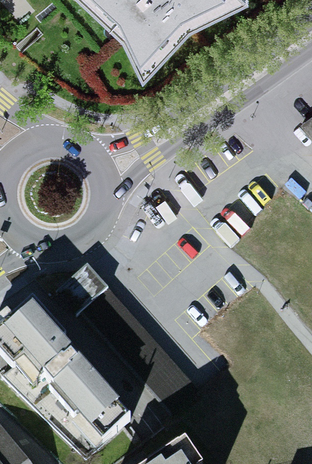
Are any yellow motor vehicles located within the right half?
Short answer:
Yes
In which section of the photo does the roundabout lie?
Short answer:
left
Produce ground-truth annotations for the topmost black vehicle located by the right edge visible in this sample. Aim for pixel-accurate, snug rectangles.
[294,97,310,118]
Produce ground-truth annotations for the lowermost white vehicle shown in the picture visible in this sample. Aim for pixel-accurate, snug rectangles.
[188,304,209,326]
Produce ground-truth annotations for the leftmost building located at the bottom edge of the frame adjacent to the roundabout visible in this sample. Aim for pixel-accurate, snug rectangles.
[0,295,130,461]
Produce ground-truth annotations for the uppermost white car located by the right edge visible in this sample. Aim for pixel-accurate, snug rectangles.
[293,126,312,146]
